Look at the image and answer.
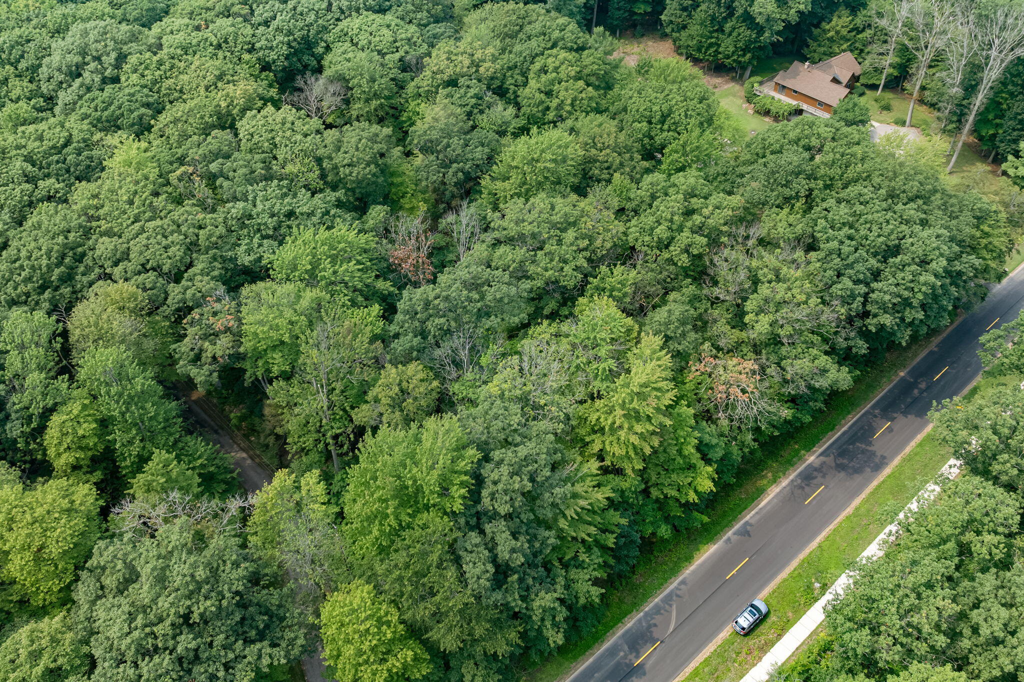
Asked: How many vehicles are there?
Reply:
one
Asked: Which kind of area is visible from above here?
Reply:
forest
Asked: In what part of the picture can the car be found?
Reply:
bottom right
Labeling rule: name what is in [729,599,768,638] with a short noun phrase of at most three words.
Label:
car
